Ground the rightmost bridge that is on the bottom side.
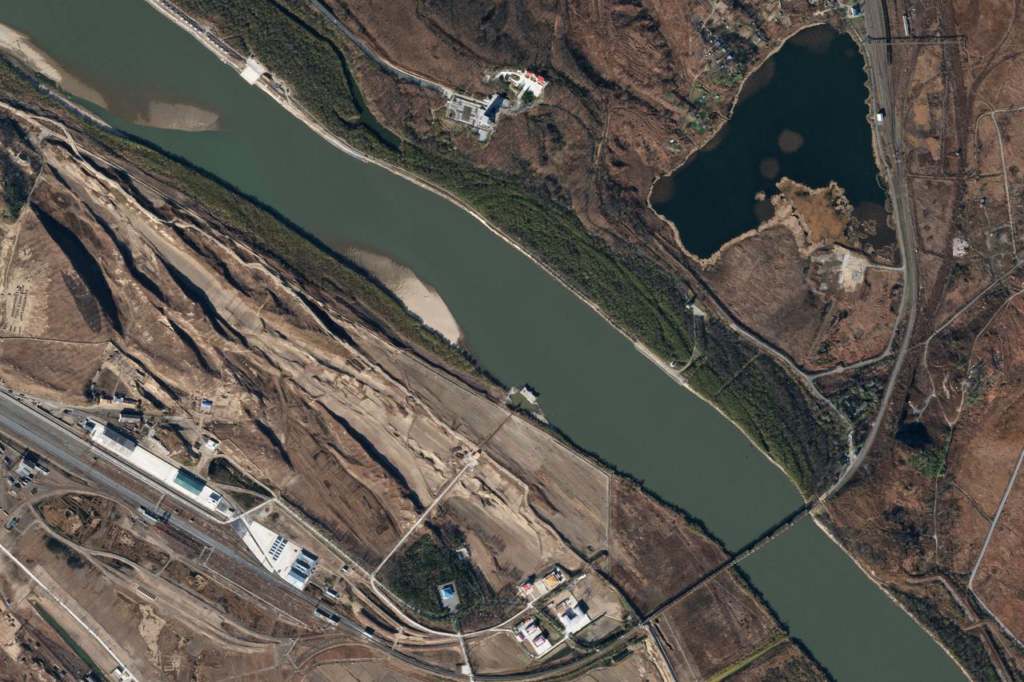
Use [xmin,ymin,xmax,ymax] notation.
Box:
[642,503,820,624]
